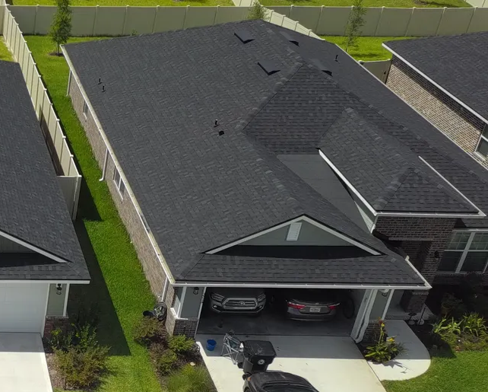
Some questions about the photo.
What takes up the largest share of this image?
buildings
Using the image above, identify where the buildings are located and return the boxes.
[59,19,488,344]
[0,59,94,335]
